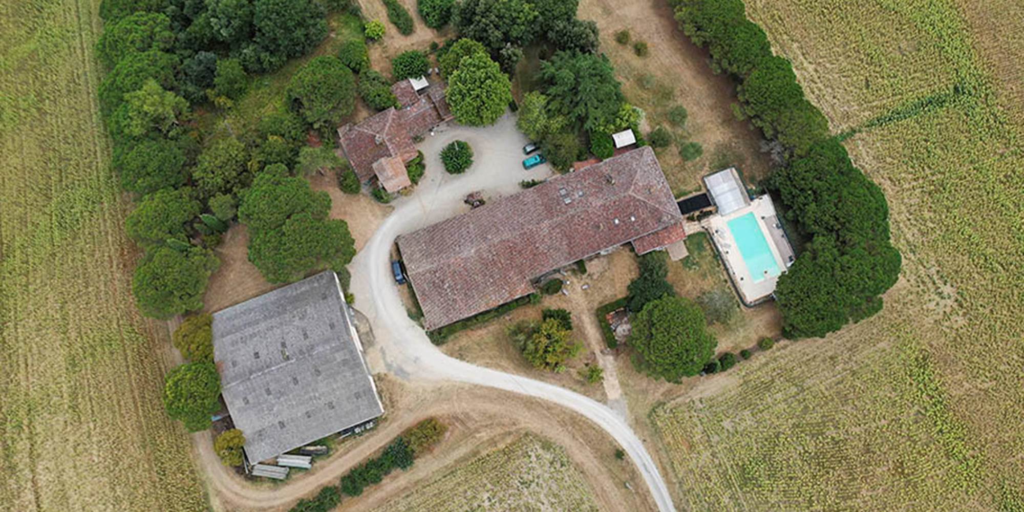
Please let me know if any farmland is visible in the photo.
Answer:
Yes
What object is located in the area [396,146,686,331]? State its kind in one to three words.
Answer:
house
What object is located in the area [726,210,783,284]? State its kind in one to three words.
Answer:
swimming pool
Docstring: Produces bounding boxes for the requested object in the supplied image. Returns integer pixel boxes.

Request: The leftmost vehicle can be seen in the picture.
[391,259,406,284]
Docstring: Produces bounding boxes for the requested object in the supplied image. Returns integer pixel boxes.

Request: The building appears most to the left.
[213,271,385,465]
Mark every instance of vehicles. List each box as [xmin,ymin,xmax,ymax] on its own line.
[391,259,406,284]
[523,141,545,155]
[523,154,547,169]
